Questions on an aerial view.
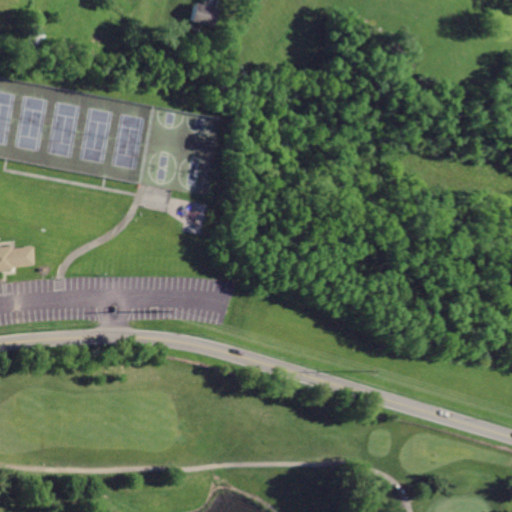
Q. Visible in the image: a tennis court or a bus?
tennis court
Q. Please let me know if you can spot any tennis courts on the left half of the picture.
Yes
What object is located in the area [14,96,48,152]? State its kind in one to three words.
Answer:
tennis court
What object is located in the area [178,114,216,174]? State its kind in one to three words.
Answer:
basketball court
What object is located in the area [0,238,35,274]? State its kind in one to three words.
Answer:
building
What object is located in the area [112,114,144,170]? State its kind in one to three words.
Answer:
tennis court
